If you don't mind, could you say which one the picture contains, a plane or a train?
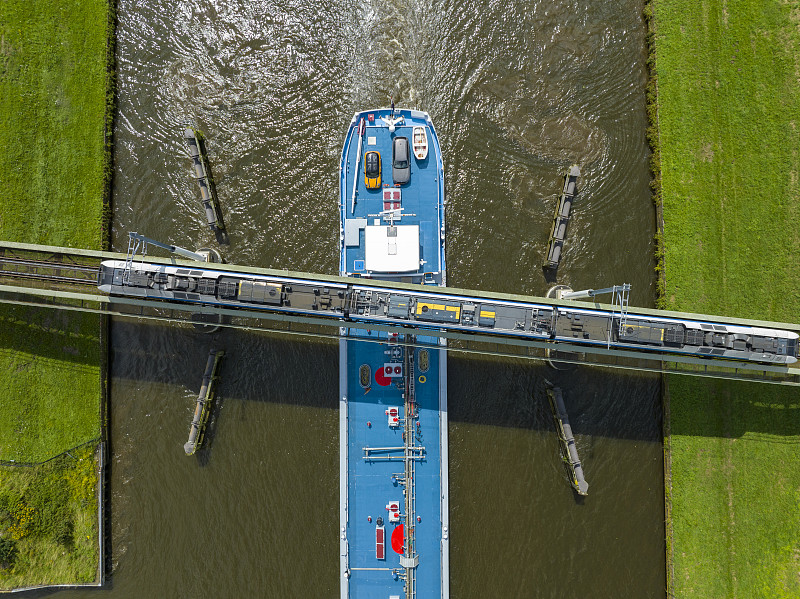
train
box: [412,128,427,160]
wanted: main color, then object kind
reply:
white boat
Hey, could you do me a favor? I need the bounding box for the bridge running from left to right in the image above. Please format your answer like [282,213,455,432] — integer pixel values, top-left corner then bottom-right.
[0,241,800,387]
